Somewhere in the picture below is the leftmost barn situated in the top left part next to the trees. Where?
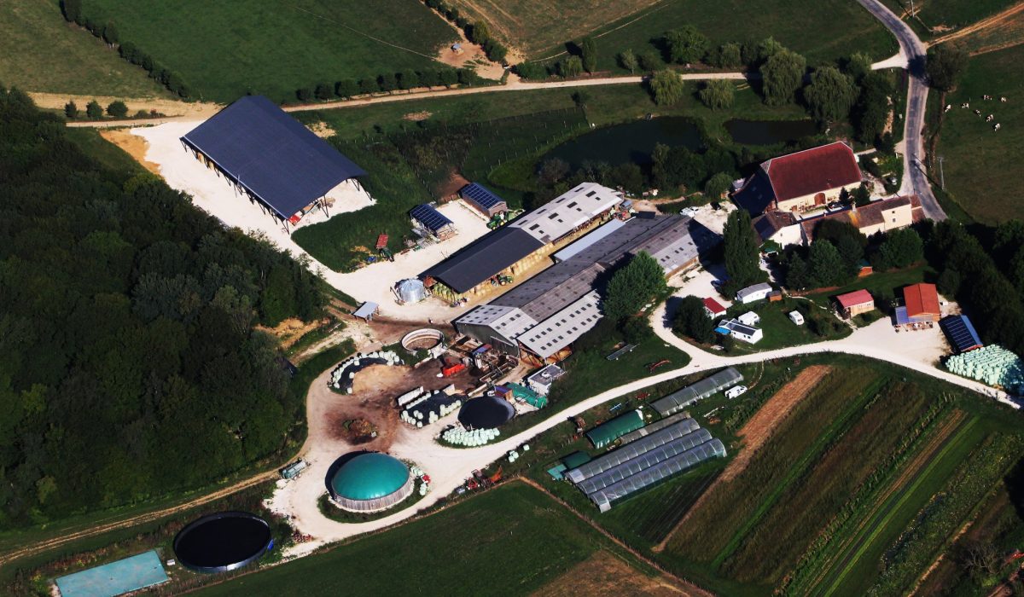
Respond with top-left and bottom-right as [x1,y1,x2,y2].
[184,94,369,232]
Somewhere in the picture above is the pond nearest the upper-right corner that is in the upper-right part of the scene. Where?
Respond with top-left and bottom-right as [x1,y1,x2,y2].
[726,119,818,145]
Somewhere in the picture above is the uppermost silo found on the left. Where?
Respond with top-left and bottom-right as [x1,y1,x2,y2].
[390,280,424,304]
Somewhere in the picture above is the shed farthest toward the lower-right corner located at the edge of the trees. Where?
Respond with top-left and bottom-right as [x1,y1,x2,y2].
[938,315,983,355]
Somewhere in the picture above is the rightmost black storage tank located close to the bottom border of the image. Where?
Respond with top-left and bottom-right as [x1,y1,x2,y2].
[173,509,273,575]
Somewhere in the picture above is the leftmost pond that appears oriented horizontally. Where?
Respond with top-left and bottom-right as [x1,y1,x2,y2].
[538,115,703,169]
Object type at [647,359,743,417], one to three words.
greenhouse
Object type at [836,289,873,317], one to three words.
building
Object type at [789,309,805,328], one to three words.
camper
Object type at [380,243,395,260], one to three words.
work vehicle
